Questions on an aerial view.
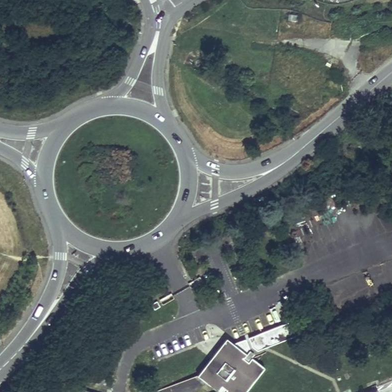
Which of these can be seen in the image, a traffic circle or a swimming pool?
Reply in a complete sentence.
It is a traffic circle that can be seen here.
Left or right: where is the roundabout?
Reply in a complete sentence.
The roundabout is on the left side of the image.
